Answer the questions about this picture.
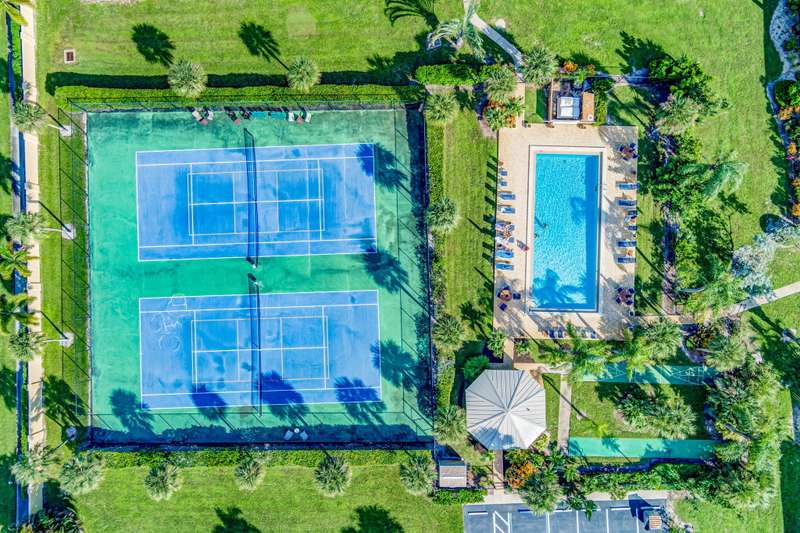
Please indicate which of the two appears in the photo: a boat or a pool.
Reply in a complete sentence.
Looking from above, you can make out a pool.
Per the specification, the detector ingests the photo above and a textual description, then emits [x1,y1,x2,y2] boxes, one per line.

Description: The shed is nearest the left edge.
[439,460,467,487]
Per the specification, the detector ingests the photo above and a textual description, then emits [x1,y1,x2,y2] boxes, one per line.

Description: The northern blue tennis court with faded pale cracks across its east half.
[136,144,377,261]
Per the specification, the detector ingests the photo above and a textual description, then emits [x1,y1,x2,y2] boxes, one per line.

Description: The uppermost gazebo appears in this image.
[466,369,545,449]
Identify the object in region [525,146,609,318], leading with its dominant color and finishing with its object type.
blue swimming pool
